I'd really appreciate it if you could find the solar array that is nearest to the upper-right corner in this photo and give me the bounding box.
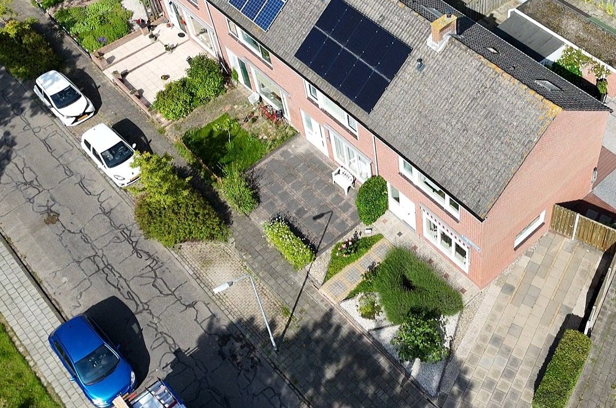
[292,0,410,112]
